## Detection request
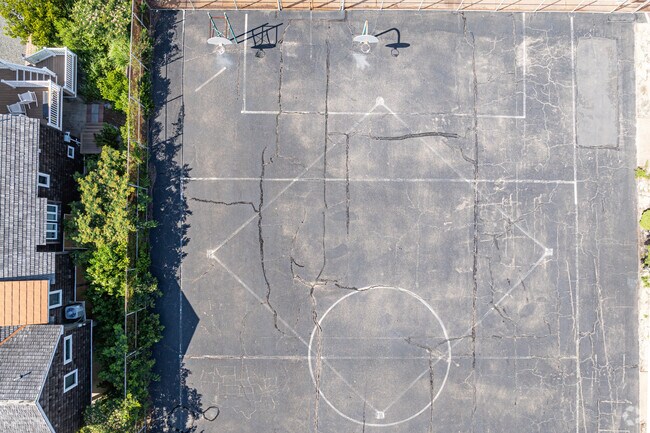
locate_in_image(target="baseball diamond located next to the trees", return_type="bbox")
[209,100,552,417]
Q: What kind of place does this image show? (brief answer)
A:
sports ground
